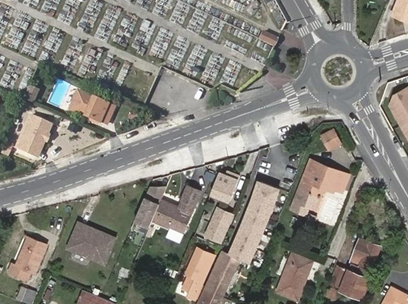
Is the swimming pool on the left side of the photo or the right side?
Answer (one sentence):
The swimming pool sits on the left side.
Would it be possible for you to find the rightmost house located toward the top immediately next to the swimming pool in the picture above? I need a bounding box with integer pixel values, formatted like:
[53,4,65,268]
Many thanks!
[68,90,118,126]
